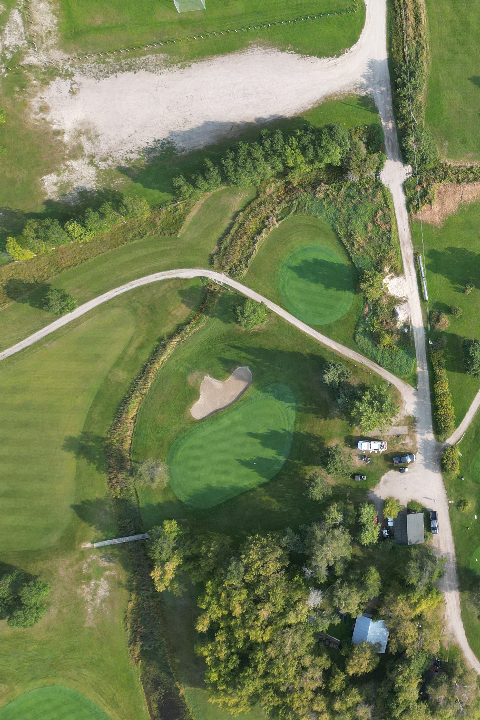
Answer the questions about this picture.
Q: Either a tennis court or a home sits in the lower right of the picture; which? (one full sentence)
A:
Looking in the lower right of the picture, you will find a home.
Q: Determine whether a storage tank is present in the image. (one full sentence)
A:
No, no storage tank can be seen from above.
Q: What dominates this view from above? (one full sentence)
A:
The bulk of the photo consists of grass.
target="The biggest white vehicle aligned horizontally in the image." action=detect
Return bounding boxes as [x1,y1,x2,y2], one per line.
[358,441,387,453]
